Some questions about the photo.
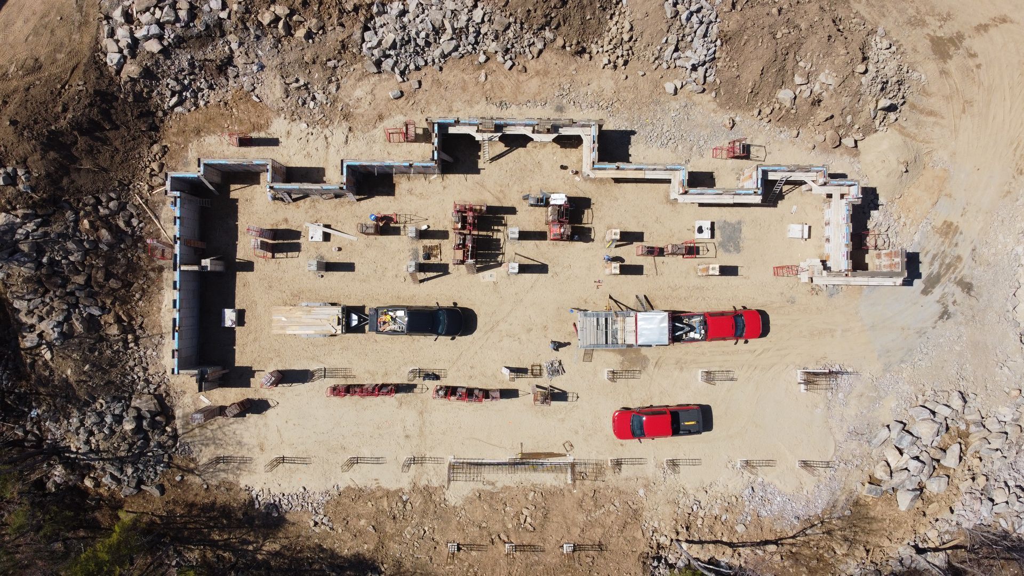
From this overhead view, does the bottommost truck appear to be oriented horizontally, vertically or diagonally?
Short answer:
horizontally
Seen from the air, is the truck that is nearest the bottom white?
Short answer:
No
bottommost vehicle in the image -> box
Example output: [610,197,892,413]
[611,404,701,443]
